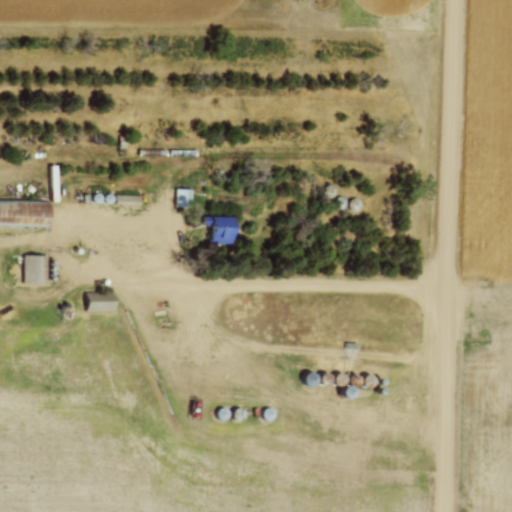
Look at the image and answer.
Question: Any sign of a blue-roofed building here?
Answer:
Yes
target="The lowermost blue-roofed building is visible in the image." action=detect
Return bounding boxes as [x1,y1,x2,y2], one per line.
[204,217,237,244]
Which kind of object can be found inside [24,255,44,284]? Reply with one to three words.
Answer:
building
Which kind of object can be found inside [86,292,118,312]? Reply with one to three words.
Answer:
barn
